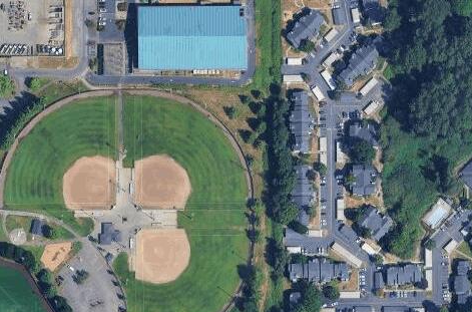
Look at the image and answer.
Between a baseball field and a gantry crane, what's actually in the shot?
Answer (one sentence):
The one in the frame is a baseball field.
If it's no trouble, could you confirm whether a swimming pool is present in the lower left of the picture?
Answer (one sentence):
No, there is no swimming pool in the lower left of the picture.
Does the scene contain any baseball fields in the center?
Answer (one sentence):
Yes, a baseball field shows up in the center.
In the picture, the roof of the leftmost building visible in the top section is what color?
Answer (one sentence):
The roof over the leftmost building visible in the top section appears blue.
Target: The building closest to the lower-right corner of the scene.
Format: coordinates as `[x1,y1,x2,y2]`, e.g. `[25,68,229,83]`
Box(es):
[452,278,472,298]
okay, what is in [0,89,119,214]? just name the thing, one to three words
baseball field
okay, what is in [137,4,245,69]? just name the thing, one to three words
building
